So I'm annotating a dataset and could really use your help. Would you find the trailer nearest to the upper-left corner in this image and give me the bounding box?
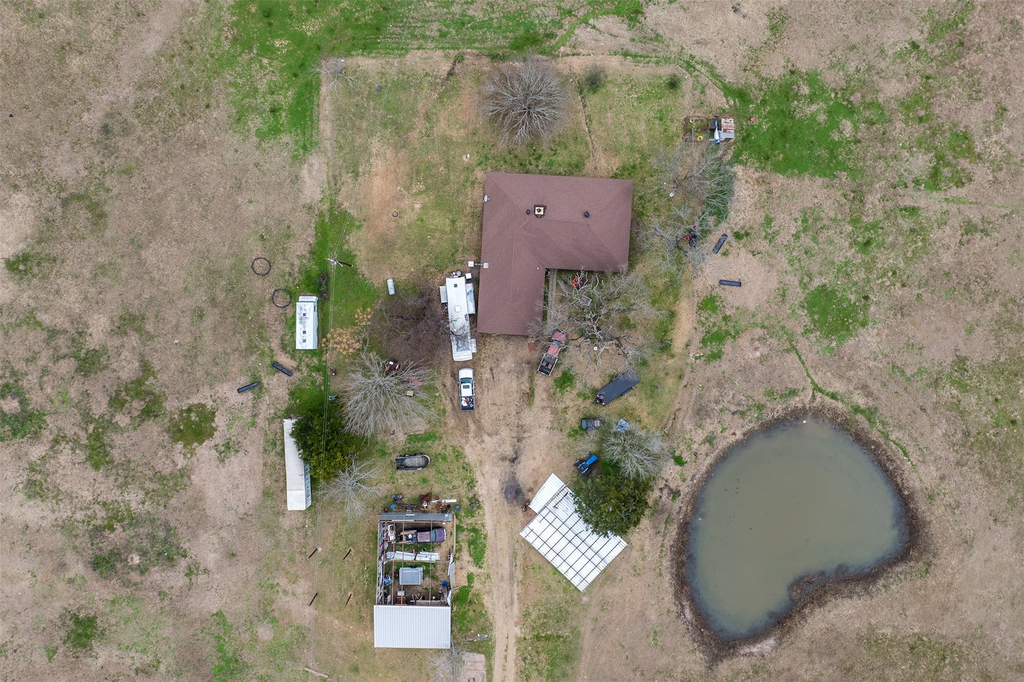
[296,291,319,350]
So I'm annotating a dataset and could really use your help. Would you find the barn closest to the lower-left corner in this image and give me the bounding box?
[374,511,460,649]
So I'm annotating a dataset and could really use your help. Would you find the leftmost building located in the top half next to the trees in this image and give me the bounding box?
[474,172,633,336]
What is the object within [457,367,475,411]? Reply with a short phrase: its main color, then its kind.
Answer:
white vehicle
